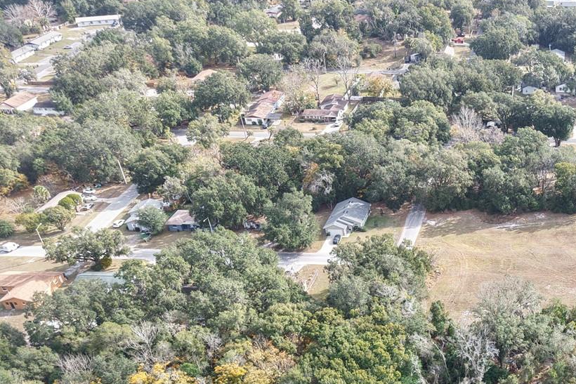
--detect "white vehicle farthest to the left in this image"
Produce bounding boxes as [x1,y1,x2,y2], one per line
[0,241,22,253]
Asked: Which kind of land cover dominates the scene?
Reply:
trees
